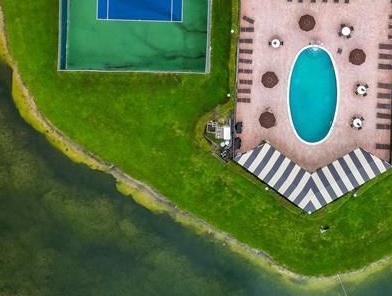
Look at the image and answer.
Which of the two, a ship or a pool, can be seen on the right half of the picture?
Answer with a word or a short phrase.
pool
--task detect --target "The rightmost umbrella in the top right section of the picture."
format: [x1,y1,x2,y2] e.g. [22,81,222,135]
[348,48,365,65]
